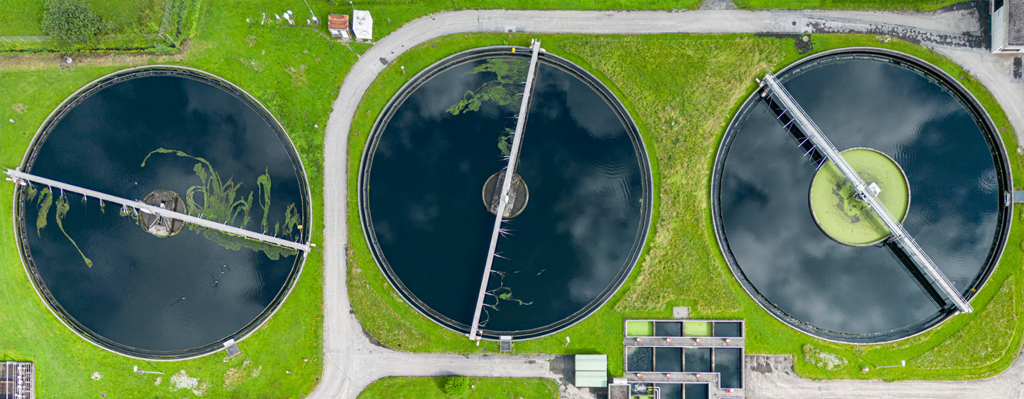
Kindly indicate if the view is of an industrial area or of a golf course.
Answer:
industrial area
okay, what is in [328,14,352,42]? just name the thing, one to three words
shed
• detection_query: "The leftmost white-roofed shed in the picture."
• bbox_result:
[353,10,375,45]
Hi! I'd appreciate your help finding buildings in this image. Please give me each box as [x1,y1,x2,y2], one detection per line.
[328,14,352,42]
[988,0,1024,52]
[353,10,375,45]
[575,356,607,388]
[608,385,630,399]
